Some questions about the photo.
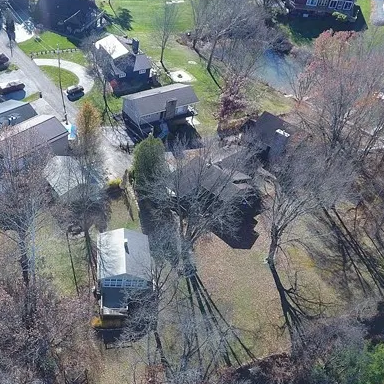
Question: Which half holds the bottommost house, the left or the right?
left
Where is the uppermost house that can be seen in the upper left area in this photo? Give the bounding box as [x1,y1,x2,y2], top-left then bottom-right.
[30,0,92,34]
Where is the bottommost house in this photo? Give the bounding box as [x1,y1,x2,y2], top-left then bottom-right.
[98,229,153,320]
